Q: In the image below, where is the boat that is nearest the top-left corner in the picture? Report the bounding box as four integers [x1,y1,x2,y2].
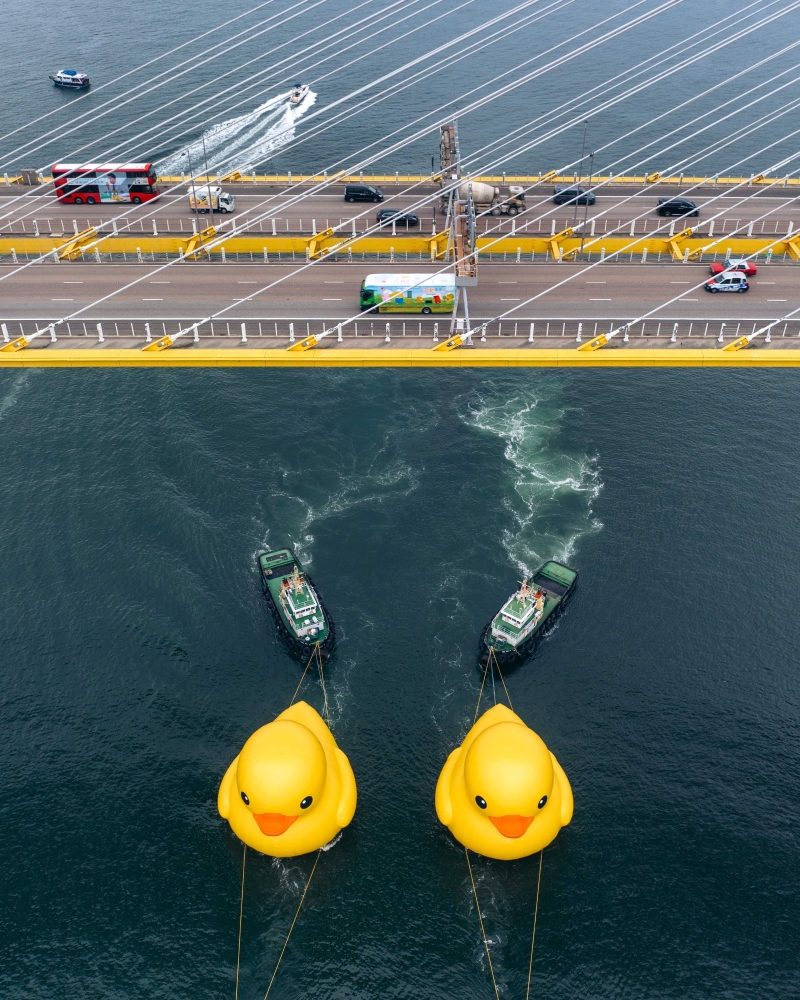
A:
[54,69,90,86]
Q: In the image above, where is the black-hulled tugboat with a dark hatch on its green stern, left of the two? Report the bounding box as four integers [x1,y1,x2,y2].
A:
[255,547,337,663]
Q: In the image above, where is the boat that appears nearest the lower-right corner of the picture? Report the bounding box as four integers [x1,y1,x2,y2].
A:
[480,558,578,668]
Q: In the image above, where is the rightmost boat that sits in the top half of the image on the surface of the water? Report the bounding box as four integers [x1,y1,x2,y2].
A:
[286,84,314,102]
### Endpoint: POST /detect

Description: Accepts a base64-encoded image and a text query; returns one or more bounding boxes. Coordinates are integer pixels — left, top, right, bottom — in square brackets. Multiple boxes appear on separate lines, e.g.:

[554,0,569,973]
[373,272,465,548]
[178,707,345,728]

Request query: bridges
[0,0,800,369]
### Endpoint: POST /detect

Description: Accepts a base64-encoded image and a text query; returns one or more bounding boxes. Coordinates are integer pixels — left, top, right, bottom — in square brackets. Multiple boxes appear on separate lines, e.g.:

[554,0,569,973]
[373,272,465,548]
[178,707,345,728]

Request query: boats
[255,547,337,663]
[54,69,90,86]
[480,558,578,668]
[286,84,314,102]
